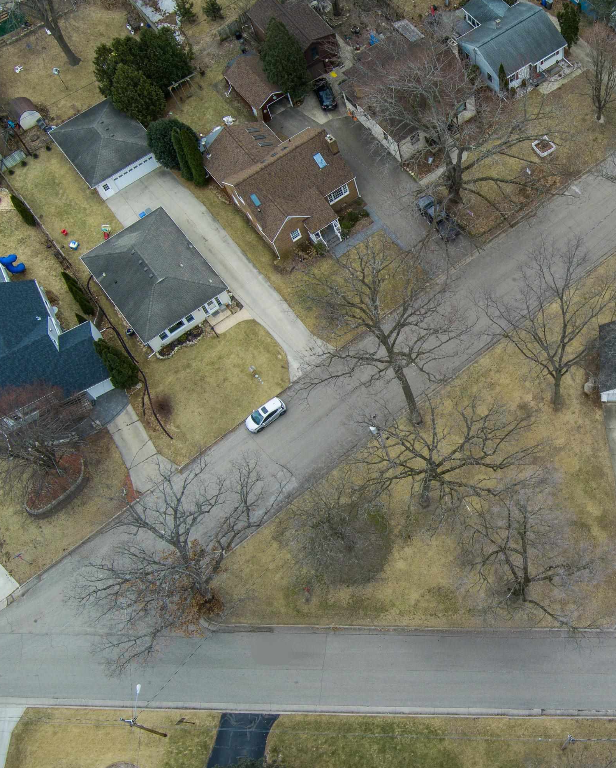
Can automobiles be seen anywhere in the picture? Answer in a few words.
Yes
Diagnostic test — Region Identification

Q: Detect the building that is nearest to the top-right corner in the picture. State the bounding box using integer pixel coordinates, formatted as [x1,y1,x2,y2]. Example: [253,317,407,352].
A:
[432,0,575,92]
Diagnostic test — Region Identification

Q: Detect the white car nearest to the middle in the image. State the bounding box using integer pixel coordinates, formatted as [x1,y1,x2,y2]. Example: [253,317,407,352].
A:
[243,395,290,434]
